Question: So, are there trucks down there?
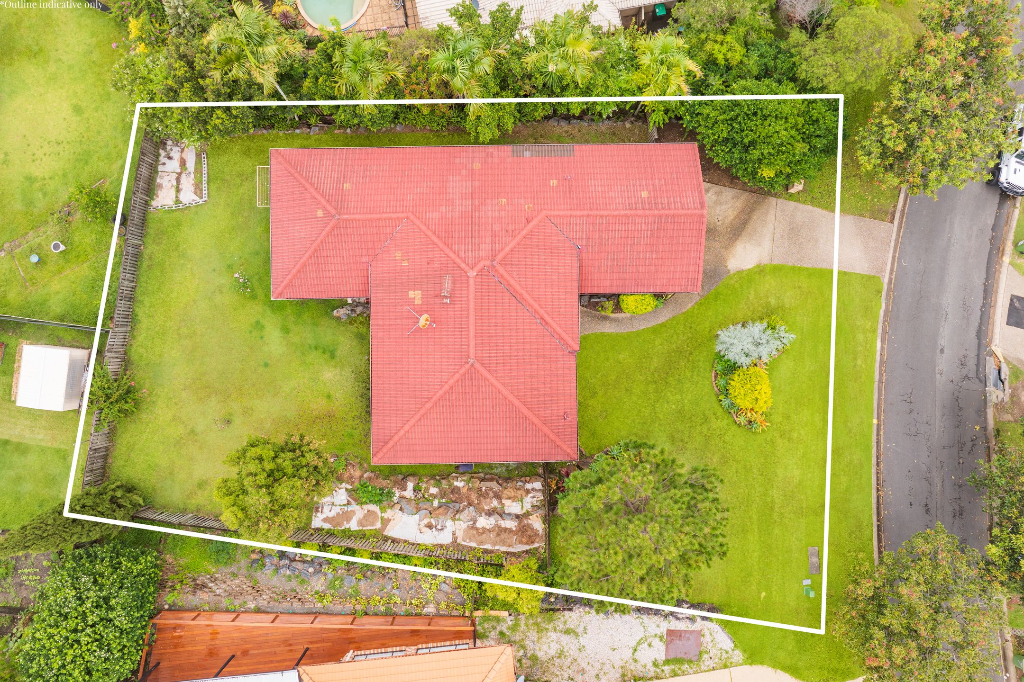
No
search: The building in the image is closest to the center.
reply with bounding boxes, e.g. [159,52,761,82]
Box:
[267,140,710,466]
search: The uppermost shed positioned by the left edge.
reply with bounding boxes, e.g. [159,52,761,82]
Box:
[16,345,91,411]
